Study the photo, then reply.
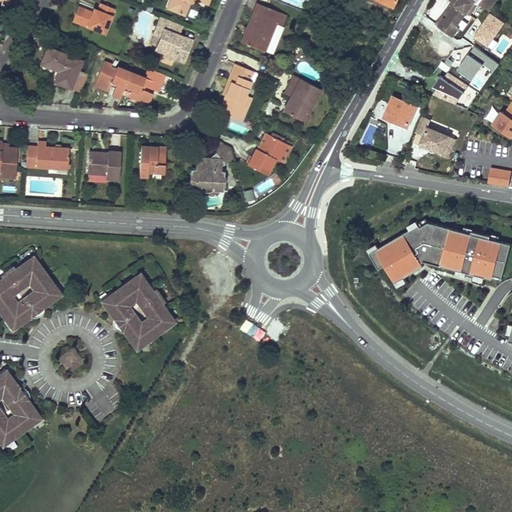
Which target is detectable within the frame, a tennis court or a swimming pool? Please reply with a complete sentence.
I can see a swimming pool in this picture.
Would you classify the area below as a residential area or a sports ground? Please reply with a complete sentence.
What you see here is a residential area.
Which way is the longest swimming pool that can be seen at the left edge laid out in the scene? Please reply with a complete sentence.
The longest swimming pool that can be seen at the left edge is laid out from side to side.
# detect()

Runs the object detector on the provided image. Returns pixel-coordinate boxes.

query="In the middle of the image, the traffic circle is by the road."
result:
[236,214,323,308]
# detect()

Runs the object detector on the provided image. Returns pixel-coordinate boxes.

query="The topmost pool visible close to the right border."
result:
[490,36,512,58]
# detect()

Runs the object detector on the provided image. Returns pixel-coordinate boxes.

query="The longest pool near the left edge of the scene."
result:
[25,176,64,198]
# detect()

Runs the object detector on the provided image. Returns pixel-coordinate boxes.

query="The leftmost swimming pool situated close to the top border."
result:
[132,10,156,46]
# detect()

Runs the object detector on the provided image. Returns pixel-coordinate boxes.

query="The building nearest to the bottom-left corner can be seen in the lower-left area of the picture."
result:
[0,370,43,450]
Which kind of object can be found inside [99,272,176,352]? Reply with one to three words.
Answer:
building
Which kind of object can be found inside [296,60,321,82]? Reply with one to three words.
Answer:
swimming pool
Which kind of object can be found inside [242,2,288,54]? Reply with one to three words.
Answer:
house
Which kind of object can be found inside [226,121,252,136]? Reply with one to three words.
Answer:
swimming pool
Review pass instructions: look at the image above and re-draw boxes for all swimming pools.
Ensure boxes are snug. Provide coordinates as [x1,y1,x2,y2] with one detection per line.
[132,10,156,46]
[226,121,252,136]
[206,193,225,210]
[296,60,321,82]
[490,36,512,58]
[254,175,278,200]
[25,176,64,198]
[360,122,379,144]
[1,184,18,194]
[282,0,304,8]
